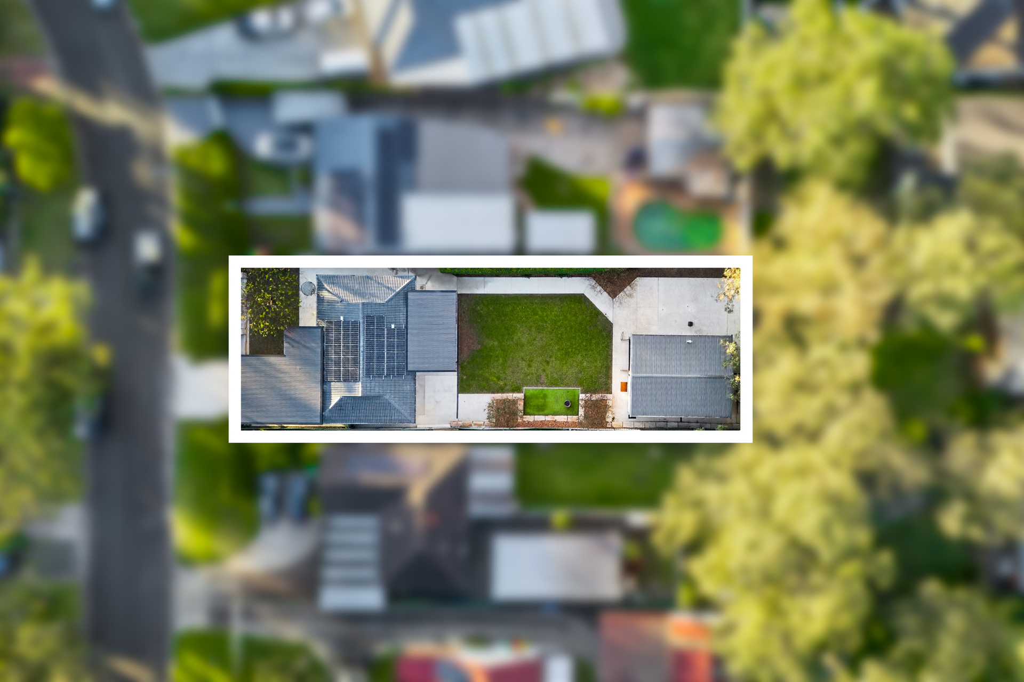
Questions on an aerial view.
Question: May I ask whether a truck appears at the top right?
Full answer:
No, I see no truck at the top right.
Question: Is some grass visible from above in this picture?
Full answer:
Yes, there is grass in the image.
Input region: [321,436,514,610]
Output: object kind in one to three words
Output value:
house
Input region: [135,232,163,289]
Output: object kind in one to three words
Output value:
truck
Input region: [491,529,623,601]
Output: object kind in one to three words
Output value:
building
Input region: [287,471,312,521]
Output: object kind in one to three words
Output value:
car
